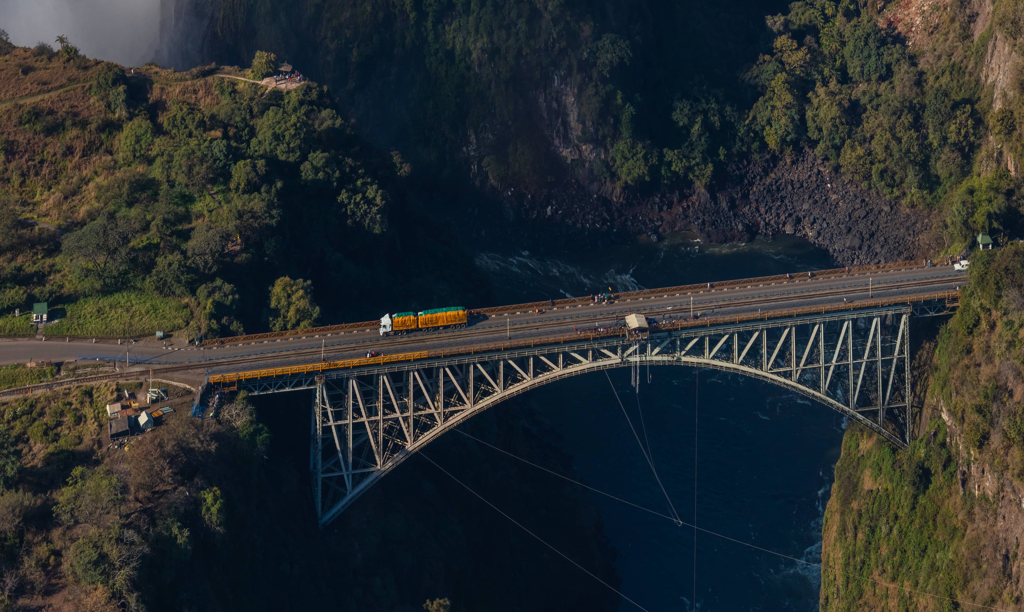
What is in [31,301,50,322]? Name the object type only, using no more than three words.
shed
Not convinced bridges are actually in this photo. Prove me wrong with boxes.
[193,253,988,529]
